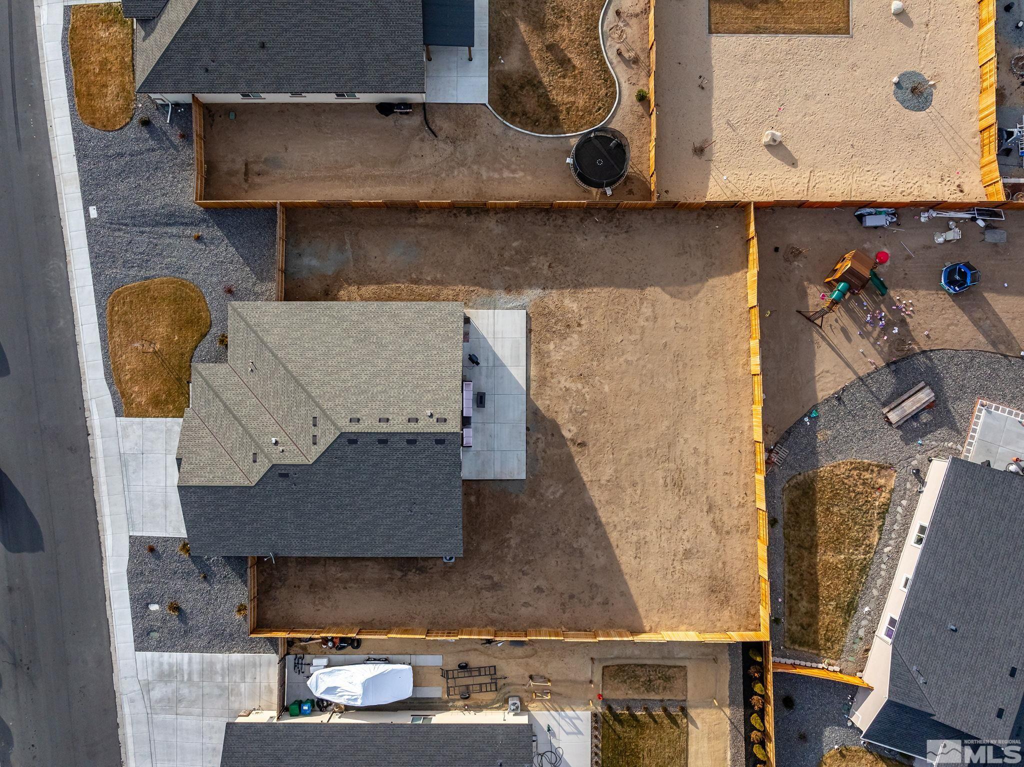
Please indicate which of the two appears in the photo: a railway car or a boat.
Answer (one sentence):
It is a boat that can be seen here.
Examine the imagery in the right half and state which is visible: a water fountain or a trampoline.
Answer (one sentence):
What appears in the right half is a trampoline.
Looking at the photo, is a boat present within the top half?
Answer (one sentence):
No, the scene shows no boat within the top half.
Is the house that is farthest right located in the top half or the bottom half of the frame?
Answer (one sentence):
It is in the bottom half that the house that is farthest right appears.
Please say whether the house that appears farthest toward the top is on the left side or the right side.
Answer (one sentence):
The house that appears farthest toward the top is on the left side of the image.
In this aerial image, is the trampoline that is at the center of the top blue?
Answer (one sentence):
No, the trampoline that is at the center of the top is black.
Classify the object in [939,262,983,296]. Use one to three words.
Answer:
trampoline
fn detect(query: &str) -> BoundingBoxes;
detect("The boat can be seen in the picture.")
[305,662,413,707]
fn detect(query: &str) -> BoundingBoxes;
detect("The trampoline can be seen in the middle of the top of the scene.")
[566,125,632,196]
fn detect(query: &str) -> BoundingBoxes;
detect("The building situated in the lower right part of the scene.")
[850,456,1024,767]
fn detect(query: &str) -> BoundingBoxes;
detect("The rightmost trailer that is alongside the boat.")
[441,663,509,698]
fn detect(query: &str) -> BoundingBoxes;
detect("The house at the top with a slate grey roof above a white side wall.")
[121,0,426,123]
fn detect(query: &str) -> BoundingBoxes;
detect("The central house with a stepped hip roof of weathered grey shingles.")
[176,300,464,564]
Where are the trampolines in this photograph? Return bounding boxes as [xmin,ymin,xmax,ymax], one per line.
[566,125,632,196]
[939,262,983,296]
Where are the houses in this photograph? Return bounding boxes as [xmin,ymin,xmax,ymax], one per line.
[121,0,426,123]
[850,456,1024,767]
[176,300,464,564]
[219,709,535,767]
